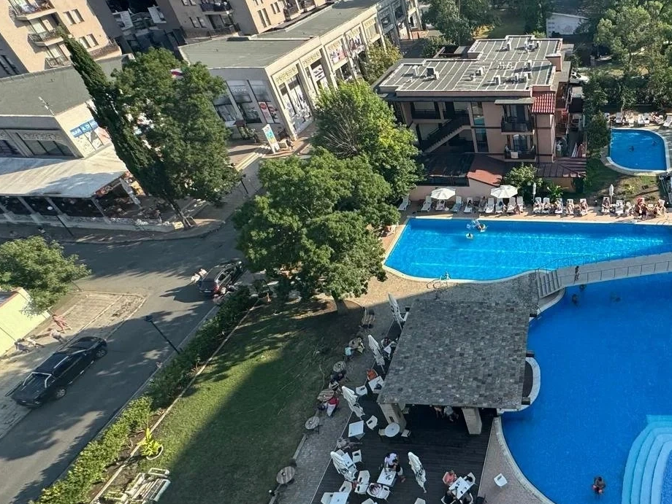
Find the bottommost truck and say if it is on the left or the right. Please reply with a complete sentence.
The bottommost truck appears in the left half of the scene.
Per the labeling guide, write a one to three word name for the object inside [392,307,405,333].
umbrella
